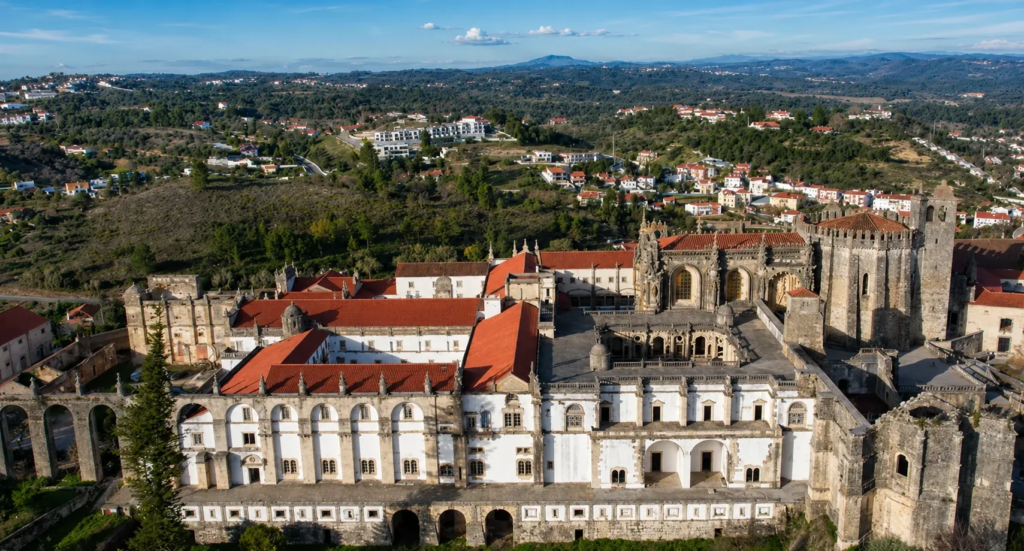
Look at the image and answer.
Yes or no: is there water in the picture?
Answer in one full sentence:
No, the picture contains no water.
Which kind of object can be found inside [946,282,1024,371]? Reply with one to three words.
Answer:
building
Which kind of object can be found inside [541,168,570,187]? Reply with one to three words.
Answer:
house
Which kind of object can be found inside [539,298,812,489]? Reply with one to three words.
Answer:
building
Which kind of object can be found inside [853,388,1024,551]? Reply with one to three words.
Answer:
house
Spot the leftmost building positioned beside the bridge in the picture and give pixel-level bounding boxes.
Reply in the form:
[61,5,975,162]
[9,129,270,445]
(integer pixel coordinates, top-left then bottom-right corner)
[0,303,61,384]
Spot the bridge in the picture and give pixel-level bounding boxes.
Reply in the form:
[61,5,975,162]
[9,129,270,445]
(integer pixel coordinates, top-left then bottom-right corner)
[0,366,465,491]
